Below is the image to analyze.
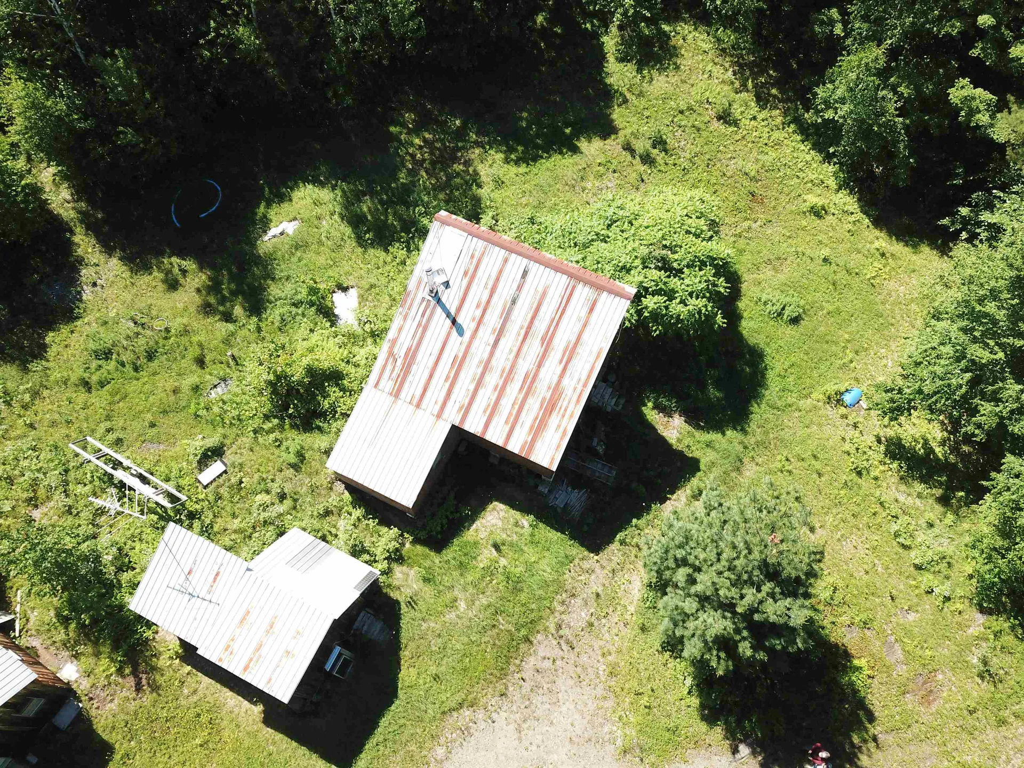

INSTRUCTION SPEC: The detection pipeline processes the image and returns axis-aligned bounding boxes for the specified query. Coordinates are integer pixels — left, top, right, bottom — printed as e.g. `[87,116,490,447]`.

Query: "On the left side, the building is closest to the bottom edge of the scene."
[0,632,71,757]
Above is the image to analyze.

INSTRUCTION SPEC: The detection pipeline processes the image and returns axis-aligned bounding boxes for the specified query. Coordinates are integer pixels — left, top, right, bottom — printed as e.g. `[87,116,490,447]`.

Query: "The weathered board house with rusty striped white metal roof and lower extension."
[332,209,637,517]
